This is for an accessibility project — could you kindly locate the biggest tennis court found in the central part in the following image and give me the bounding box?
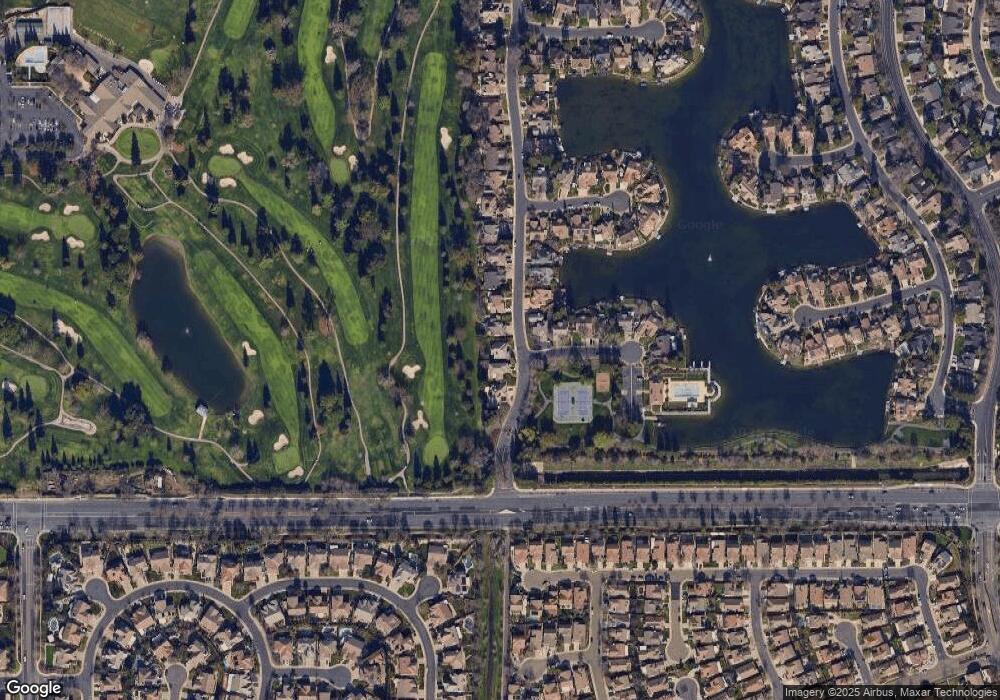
[553,381,593,424]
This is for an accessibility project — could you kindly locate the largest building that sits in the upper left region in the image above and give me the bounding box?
[70,64,173,143]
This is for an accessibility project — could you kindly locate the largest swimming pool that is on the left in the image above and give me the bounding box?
[16,46,48,72]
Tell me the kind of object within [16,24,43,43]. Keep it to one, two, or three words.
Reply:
tennis court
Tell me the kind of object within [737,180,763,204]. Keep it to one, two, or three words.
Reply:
house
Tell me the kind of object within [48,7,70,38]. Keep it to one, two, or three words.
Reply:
tennis court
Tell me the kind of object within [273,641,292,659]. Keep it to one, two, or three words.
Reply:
house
